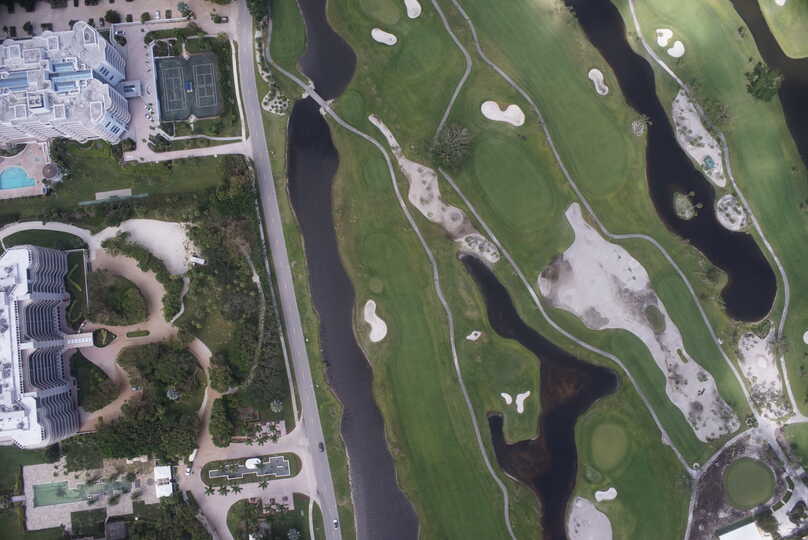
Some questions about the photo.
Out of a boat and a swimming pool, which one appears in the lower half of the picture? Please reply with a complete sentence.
Visible in the lower half of the picture is a swimming pool.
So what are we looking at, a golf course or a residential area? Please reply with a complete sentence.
This looks like a golf course.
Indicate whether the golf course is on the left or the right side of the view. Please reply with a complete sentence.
It is on the right.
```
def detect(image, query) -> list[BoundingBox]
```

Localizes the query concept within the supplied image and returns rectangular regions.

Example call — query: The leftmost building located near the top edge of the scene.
[0,21,128,142]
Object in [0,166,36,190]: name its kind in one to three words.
swimming pool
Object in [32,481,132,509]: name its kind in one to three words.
swimming pool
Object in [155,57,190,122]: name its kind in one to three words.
tennis court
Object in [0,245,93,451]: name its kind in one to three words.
building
